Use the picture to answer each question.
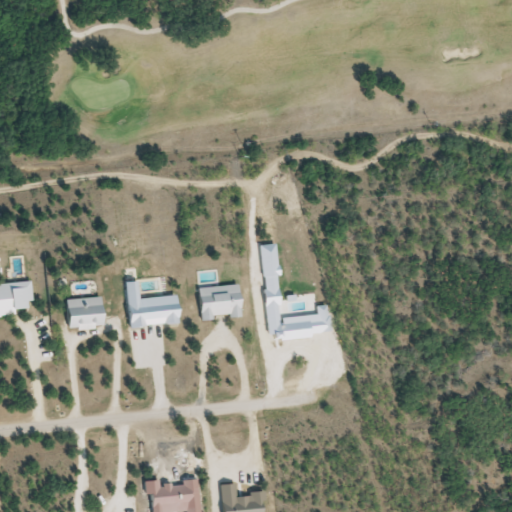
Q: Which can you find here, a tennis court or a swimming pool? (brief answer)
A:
swimming pool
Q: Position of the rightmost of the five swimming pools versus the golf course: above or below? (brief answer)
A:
below it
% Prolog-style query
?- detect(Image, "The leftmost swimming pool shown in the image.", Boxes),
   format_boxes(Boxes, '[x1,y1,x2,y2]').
[7,256,26,278]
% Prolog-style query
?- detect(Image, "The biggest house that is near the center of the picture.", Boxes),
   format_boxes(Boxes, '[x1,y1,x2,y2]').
[260,244,332,341]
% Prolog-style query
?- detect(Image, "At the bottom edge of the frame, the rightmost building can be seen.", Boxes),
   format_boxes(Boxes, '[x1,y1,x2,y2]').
[220,483,268,512]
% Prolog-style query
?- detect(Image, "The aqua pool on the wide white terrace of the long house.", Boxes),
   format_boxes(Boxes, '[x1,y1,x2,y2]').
[282,294,316,314]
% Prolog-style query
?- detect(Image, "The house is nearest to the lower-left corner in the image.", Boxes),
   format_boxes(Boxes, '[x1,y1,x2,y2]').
[145,480,204,512]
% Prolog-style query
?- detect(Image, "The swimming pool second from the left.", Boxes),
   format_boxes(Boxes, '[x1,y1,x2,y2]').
[68,280,97,295]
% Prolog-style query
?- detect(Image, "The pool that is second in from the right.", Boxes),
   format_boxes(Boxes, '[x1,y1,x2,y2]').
[198,270,218,285]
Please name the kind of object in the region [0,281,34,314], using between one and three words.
house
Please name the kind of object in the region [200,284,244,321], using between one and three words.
house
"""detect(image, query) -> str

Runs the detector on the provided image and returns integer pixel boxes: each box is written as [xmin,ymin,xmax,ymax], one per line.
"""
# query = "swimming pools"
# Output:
[282,294,316,314]
[198,270,218,285]
[68,280,97,295]
[7,256,26,278]
[136,277,162,294]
